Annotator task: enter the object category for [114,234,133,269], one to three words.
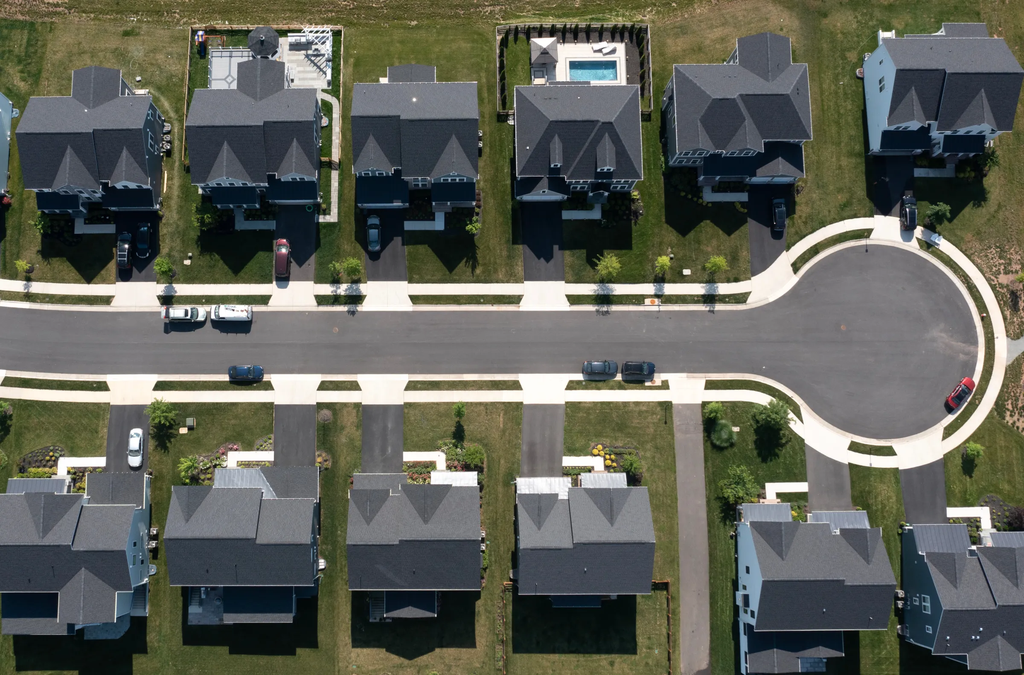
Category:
car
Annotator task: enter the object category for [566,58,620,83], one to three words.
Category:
swimming pool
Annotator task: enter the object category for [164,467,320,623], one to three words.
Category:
house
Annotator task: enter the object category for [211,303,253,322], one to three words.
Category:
vehicle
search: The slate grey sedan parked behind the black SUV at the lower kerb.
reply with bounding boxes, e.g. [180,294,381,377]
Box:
[581,359,618,376]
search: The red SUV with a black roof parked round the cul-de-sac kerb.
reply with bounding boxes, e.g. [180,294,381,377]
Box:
[944,375,974,409]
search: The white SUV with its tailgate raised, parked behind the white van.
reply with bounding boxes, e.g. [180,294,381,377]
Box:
[160,305,207,323]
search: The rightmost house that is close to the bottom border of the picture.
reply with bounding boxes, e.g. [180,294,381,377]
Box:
[900,524,1024,673]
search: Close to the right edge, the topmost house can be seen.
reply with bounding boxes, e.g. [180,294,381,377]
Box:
[860,22,1024,160]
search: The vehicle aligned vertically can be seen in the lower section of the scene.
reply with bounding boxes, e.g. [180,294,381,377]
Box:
[126,428,146,467]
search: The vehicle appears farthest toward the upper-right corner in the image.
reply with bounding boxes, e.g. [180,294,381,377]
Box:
[898,196,920,232]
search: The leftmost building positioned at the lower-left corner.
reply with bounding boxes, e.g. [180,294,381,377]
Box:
[0,473,152,636]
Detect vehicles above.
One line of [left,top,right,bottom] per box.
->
[160,305,207,323]
[211,303,253,322]
[228,363,265,381]
[134,223,153,258]
[126,428,146,467]
[898,196,920,232]
[581,359,618,376]
[365,216,382,252]
[620,359,655,377]
[114,234,133,269]
[273,240,292,278]
[769,198,788,231]
[944,375,974,409]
